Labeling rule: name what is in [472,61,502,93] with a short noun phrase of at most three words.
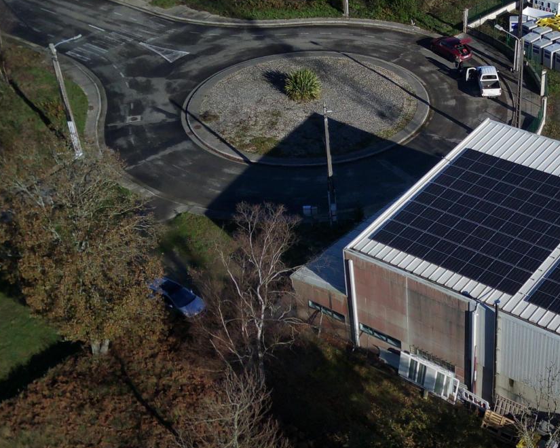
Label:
truck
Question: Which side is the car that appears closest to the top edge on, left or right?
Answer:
right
